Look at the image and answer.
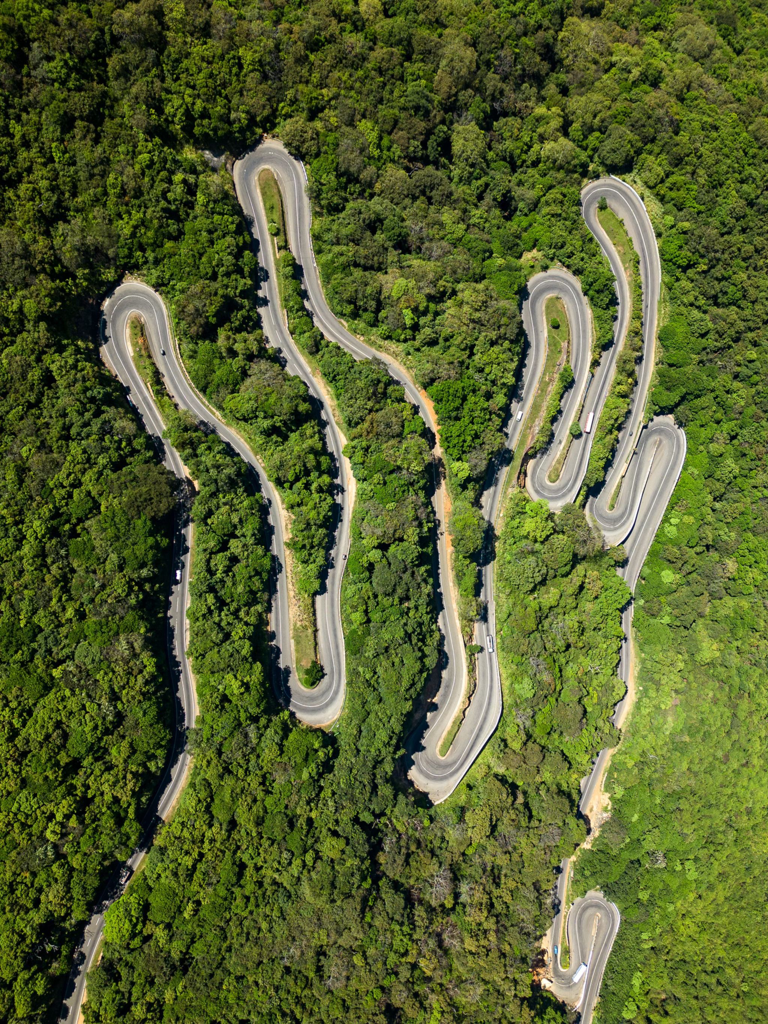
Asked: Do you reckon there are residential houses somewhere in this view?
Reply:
No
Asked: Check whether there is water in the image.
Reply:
No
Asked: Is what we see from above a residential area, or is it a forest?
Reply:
forest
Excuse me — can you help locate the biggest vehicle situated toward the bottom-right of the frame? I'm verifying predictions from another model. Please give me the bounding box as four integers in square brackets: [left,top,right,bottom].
[573,961,586,982]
